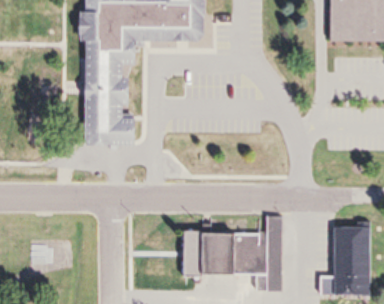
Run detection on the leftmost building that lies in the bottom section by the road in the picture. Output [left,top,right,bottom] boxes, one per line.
[184,216,282,290]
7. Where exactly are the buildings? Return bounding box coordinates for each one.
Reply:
[320,226,372,294]
[79,0,206,144]
[330,0,384,40]
[184,216,282,290]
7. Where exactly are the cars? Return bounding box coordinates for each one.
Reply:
[229,84,235,96]
[186,72,192,84]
